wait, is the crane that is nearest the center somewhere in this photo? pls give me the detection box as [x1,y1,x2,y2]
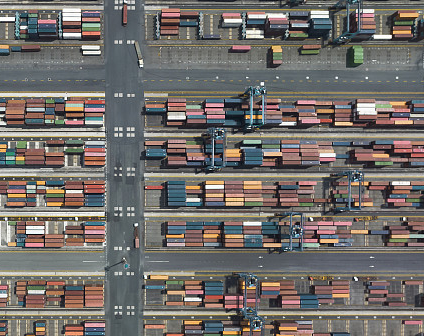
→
[201,127,228,173]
